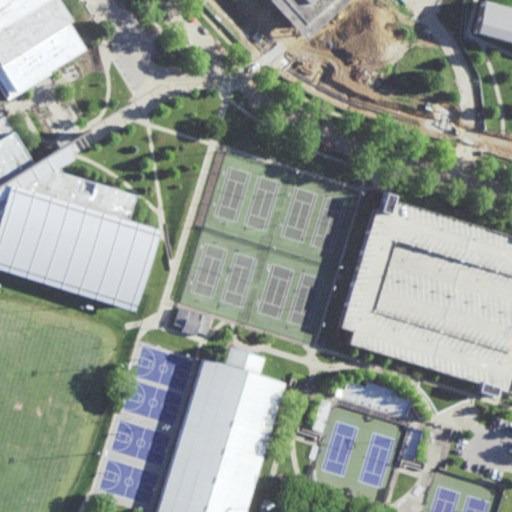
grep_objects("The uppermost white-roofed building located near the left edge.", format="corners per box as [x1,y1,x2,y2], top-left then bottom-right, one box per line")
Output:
[0,0,88,102]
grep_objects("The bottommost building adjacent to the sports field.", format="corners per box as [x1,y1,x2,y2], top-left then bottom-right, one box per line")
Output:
[155,360,287,512]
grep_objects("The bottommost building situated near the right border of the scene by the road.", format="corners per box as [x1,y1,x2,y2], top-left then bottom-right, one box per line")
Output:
[338,192,512,400]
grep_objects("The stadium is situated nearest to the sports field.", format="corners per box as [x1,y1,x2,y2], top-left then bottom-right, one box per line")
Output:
[0,188,160,312]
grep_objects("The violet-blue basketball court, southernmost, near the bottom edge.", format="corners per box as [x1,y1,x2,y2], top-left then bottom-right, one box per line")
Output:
[100,460,160,504]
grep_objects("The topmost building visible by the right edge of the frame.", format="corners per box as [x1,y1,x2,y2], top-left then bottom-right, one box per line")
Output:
[473,0,512,46]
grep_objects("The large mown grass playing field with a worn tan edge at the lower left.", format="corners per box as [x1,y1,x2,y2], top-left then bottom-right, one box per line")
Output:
[0,291,115,512]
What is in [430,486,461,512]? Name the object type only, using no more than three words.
tennis court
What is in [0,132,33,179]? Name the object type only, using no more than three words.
building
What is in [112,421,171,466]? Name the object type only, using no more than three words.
basketball court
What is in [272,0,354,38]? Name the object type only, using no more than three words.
building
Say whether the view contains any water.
No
